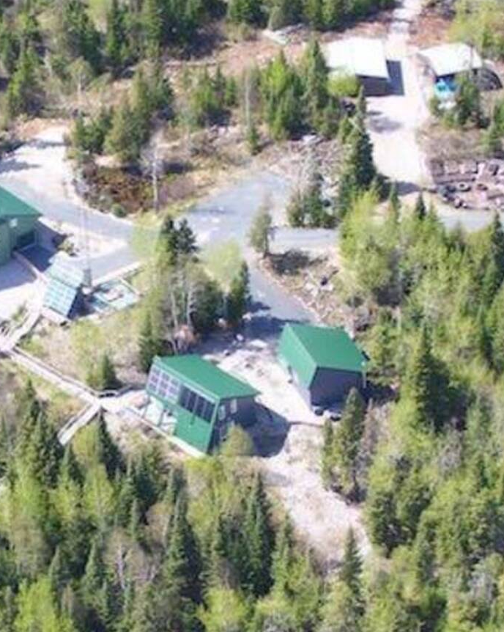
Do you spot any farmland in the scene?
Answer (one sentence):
No, farmland can't be seen anywhere here.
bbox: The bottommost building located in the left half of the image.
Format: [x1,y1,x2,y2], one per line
[124,355,266,457]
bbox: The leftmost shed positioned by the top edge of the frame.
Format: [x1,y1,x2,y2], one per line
[329,31,394,95]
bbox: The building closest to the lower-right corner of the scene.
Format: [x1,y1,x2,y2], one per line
[276,323,365,412]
